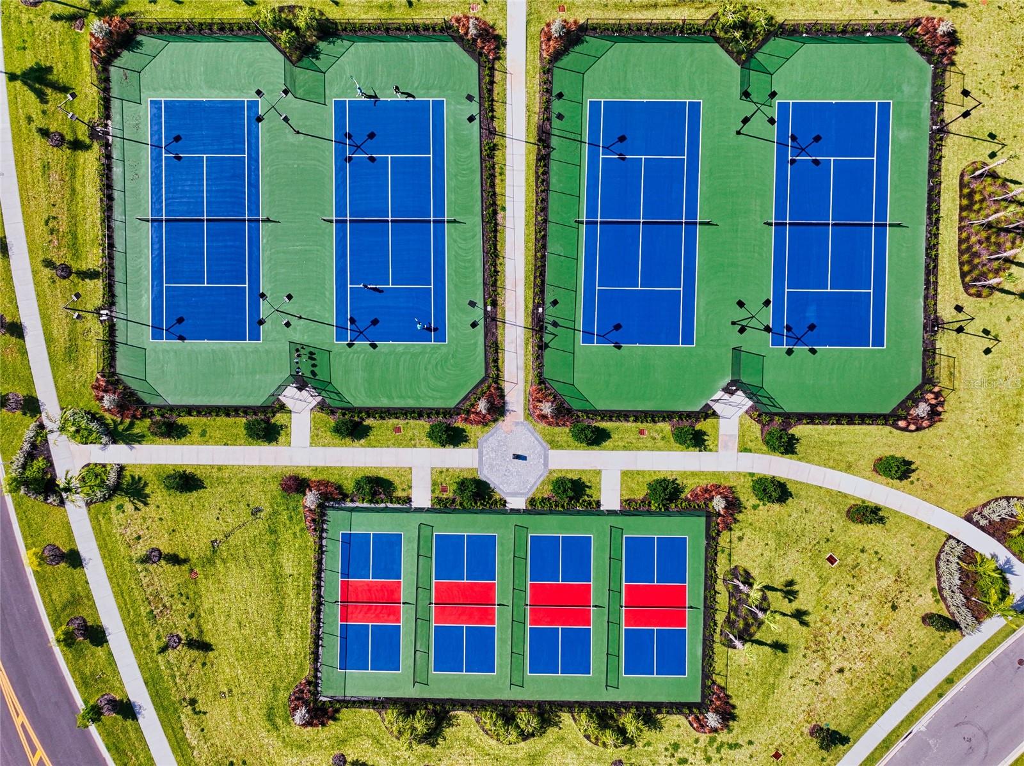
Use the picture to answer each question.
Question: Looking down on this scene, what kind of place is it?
sports ground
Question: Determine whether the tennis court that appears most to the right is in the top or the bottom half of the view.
top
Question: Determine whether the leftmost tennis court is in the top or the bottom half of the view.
top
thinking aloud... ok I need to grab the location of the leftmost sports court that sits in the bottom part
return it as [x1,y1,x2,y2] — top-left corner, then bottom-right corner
[320,506,421,698]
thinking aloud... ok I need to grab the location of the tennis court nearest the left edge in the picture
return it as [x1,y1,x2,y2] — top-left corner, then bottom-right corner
[111,34,300,406]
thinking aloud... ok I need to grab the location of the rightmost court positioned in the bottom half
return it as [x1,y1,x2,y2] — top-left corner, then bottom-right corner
[605,509,705,702]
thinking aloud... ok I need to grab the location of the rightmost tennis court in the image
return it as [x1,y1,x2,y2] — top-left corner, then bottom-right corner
[732,35,931,413]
